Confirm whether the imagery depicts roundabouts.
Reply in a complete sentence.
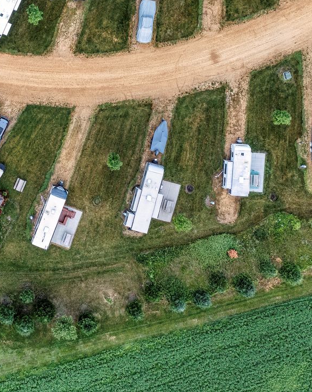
No, the photo shows no roundabout.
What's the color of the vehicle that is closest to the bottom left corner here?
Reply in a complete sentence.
The vehicle that is closest to the bottom left corner looks white in the image.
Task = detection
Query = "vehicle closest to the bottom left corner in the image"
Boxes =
[30,181,67,249]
